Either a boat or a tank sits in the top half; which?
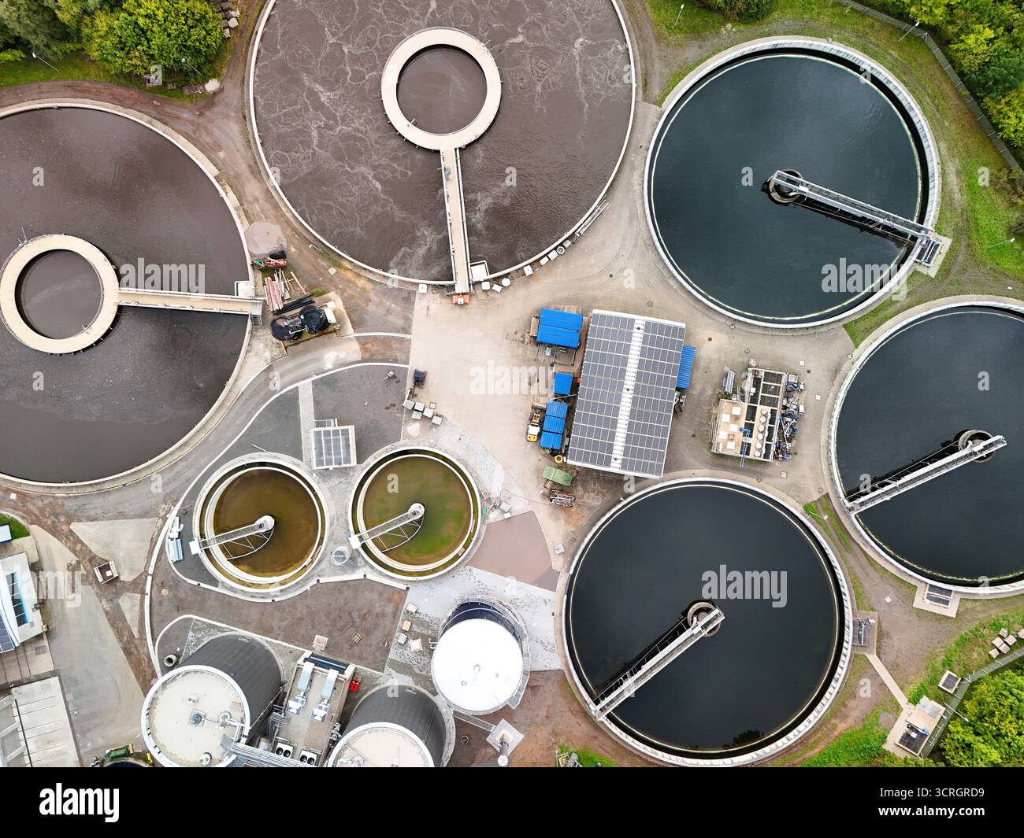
tank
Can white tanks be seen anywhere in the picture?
Yes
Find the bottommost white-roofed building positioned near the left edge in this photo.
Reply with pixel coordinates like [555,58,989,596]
[0,552,49,654]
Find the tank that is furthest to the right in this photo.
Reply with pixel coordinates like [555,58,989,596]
[821,296,1024,597]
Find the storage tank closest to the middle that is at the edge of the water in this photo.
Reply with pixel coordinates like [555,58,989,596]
[349,448,481,580]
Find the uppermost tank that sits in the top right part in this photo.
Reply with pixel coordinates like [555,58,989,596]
[637,35,938,336]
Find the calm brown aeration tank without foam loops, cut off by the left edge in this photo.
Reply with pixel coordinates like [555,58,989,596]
[0,98,264,495]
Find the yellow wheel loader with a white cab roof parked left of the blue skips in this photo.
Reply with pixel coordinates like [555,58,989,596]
[525,402,546,445]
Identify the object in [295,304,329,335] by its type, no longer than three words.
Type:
storage tank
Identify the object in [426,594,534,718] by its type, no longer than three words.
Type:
storage tank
